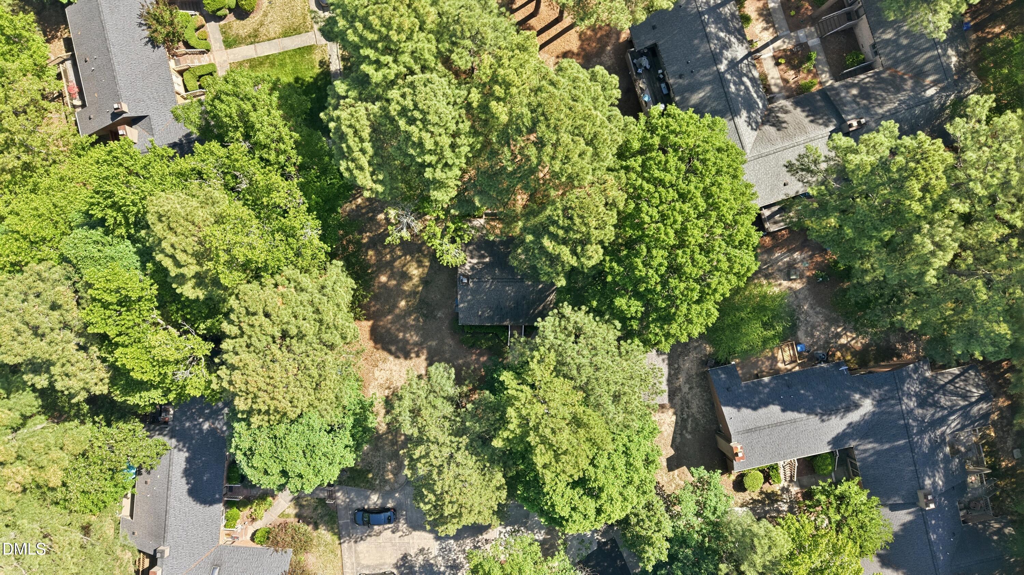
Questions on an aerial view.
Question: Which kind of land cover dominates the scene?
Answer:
trees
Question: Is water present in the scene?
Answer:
No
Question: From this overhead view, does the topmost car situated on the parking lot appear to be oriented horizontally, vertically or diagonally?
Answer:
horizontally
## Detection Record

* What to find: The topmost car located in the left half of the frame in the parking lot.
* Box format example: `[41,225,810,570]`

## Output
[355,505,397,528]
